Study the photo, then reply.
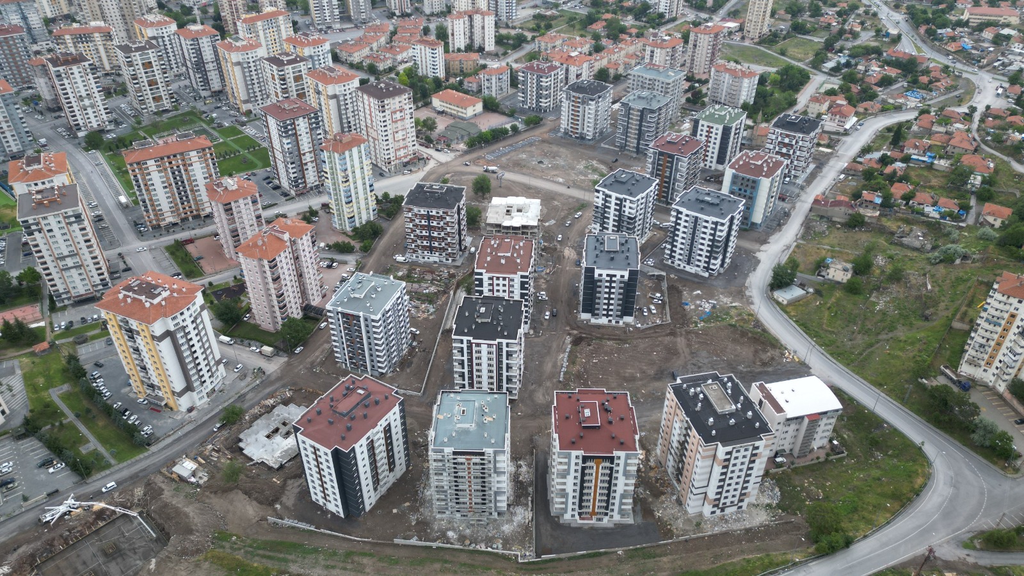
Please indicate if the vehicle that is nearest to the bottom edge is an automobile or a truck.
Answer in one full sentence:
Specifically, the vehicle that is nearest to the bottom edge is a truck.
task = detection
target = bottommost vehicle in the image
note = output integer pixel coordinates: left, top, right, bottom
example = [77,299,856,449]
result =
[35,490,159,544]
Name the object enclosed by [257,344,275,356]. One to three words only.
vehicle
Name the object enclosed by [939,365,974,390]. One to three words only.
truck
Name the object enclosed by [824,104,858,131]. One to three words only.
house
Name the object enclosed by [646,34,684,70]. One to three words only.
building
